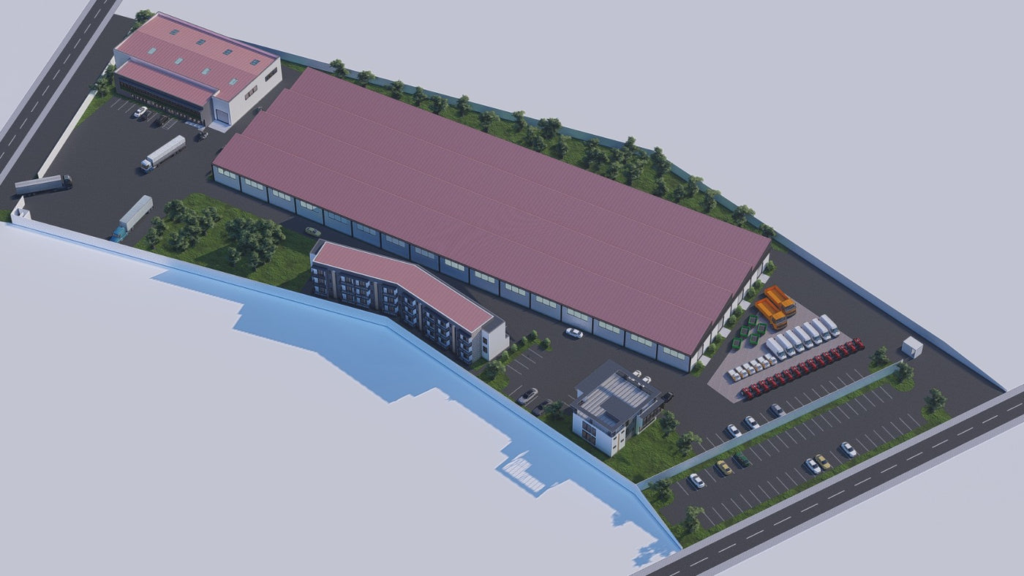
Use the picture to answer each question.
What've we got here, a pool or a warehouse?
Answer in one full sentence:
The one in the frame is a warehouse.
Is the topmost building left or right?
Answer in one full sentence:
It is on the left.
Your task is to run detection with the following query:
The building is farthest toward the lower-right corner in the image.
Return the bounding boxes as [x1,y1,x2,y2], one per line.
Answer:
[901,336,923,358]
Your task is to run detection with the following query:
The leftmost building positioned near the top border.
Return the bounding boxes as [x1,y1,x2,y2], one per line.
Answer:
[113,11,281,127]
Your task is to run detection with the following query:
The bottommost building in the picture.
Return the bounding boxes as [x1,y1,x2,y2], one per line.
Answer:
[571,360,665,457]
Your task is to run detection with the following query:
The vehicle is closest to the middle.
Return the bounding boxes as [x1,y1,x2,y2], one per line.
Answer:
[564,328,584,340]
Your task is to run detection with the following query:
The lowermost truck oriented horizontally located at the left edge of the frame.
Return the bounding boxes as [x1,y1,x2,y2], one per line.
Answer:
[15,176,73,199]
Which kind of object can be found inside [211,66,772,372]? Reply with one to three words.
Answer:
warehouse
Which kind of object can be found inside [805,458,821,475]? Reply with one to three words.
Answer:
car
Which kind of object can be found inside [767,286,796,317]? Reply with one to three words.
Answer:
truck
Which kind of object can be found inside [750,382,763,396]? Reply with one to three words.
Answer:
vehicle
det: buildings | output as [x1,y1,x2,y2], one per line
[15,206,38,220]
[211,66,772,372]
[901,336,923,358]
[571,360,665,457]
[309,238,509,366]
[113,11,281,127]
